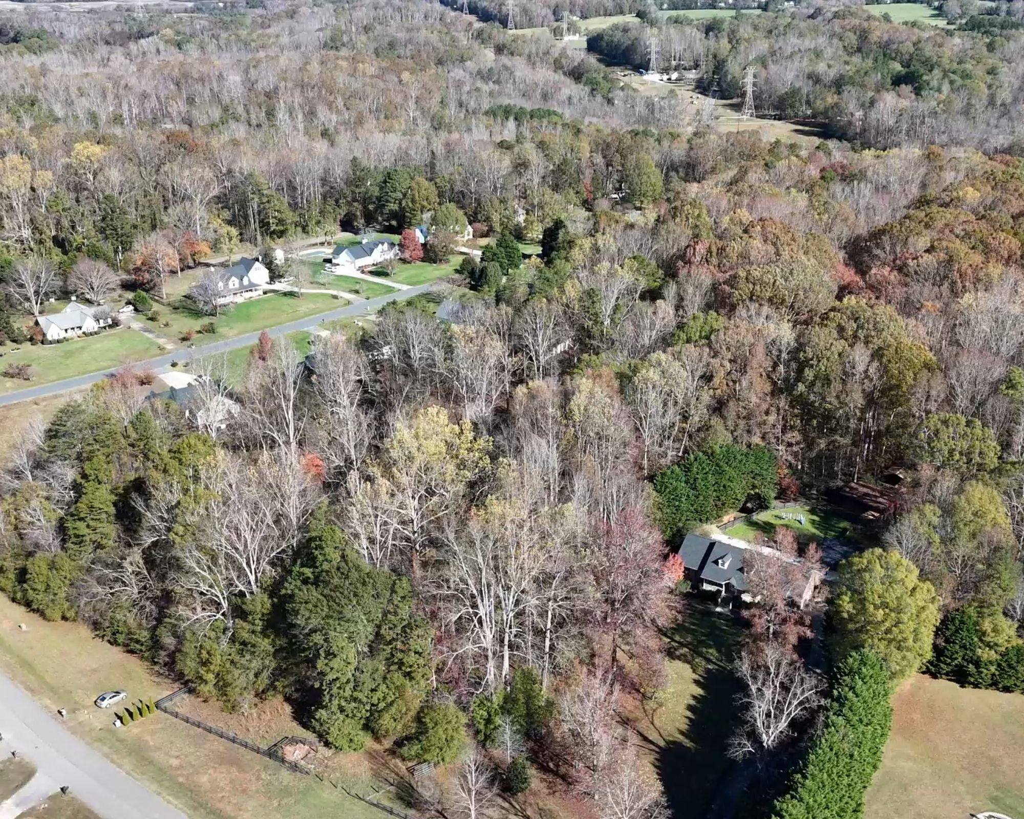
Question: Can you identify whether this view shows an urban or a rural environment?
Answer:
rural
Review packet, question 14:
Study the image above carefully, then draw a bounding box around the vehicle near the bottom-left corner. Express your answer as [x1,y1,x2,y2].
[93,691,128,711]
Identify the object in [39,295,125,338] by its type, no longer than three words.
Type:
house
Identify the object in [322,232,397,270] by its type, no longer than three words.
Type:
house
